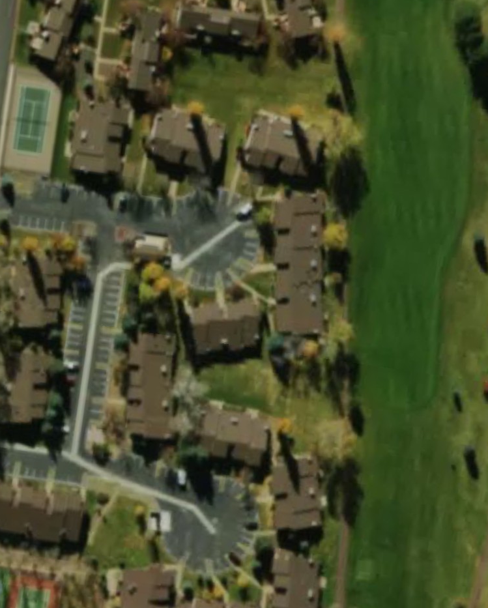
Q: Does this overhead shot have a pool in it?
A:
No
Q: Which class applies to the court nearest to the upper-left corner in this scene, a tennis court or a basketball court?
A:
tennis court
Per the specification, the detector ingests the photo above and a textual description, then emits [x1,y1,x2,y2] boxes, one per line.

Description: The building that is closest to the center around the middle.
[189,298,265,363]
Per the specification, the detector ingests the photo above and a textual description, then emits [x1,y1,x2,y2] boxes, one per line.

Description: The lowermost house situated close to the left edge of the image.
[0,480,86,547]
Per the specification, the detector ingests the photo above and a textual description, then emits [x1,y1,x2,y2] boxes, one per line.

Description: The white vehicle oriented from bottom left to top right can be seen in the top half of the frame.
[236,203,252,216]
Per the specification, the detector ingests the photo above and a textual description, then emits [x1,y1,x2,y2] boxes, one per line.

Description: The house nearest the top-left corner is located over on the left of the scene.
[22,0,75,58]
